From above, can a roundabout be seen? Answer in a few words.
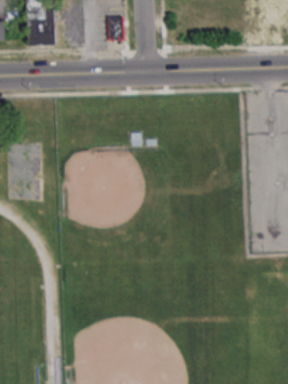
No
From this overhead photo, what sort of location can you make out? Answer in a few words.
sports ground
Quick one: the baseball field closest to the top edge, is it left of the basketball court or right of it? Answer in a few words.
to the right of it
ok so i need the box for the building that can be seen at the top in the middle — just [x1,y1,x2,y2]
[106,15,126,40]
